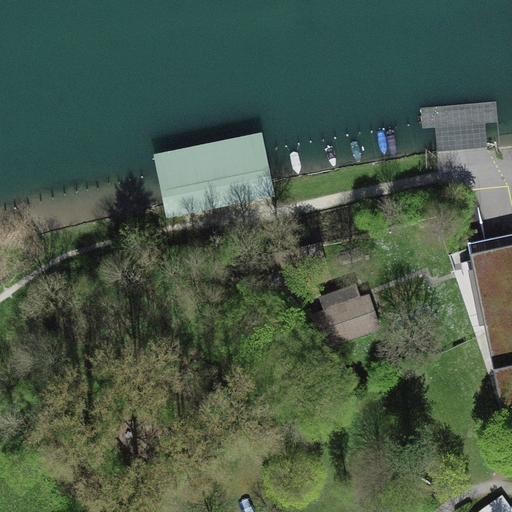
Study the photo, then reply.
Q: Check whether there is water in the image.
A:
Yes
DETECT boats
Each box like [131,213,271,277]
[328,146,336,166]
[378,130,388,154]
[352,140,361,162]
[386,128,398,157]
[290,150,301,174]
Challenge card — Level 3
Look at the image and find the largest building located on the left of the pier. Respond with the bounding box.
[154,132,274,218]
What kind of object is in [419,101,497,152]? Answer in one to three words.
pier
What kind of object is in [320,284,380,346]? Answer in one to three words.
house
